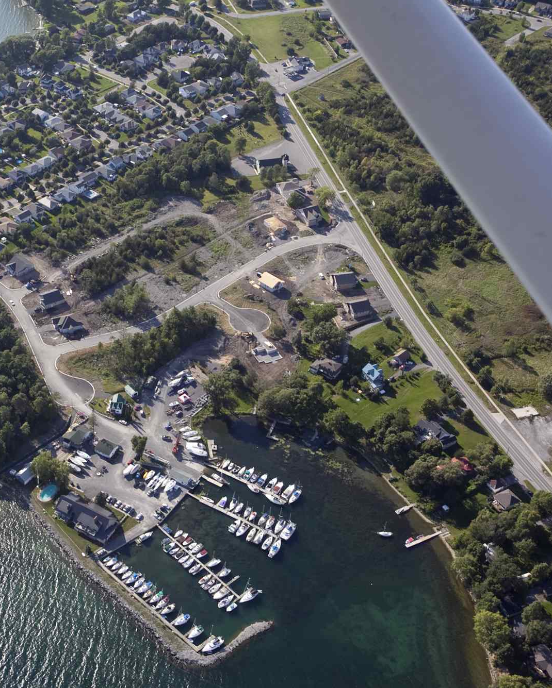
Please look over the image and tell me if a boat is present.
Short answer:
Yes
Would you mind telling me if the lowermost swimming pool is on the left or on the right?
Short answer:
left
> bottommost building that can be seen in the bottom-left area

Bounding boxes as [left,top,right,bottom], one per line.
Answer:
[45,493,127,551]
